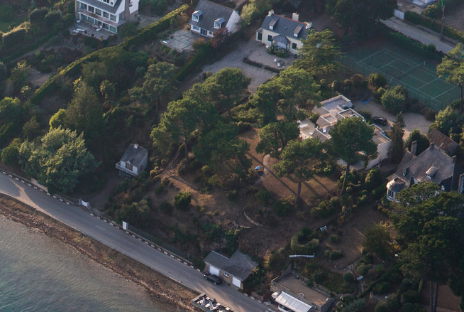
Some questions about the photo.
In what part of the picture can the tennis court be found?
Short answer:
top right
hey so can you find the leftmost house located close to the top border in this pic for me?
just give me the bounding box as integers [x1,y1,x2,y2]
[71,0,138,34]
